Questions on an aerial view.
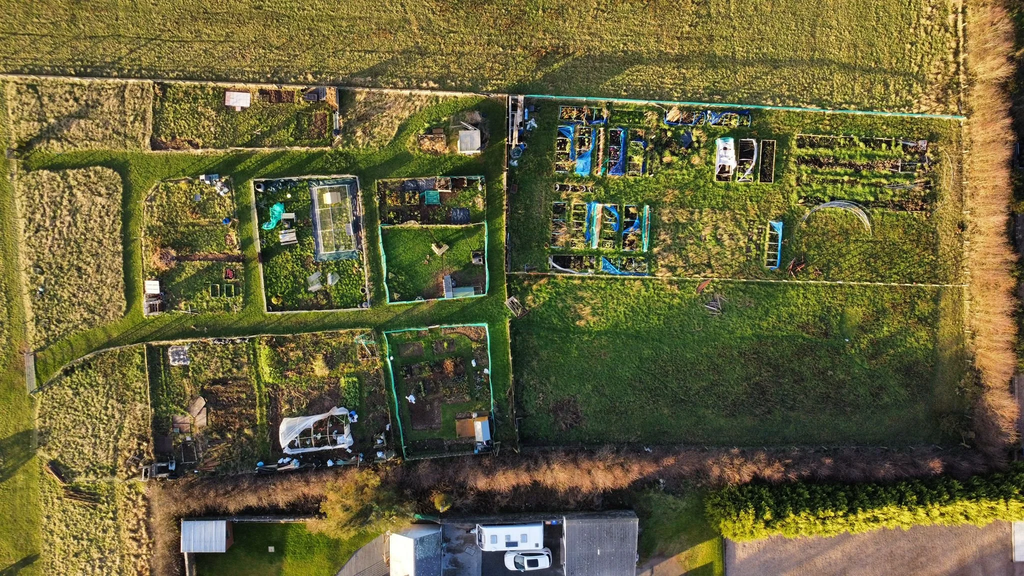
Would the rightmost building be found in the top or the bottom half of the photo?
bottom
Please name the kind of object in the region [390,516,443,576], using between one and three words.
shed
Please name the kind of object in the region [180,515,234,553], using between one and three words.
shed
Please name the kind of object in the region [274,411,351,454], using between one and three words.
greenhouse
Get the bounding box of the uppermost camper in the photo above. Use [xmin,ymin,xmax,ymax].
[470,516,543,551]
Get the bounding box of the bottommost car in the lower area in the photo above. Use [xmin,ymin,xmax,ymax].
[505,547,550,573]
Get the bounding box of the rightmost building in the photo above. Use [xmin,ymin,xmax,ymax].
[562,500,641,575]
